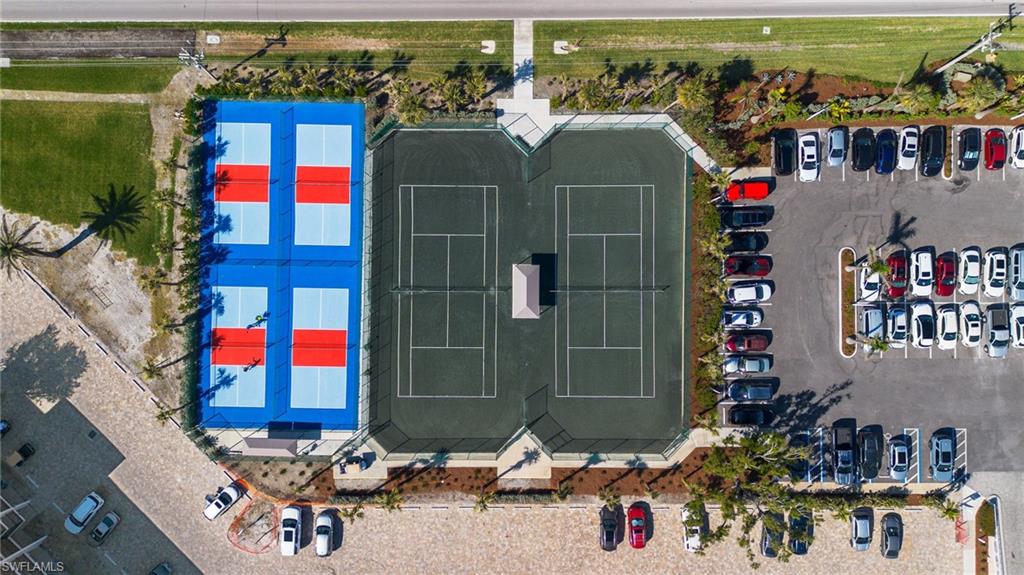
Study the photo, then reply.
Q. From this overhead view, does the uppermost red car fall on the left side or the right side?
right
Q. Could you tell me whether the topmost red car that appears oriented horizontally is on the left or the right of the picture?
right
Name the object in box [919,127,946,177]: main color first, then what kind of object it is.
black car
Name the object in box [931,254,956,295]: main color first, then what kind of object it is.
red car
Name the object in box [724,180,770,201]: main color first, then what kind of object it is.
red car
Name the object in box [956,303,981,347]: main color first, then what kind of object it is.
white car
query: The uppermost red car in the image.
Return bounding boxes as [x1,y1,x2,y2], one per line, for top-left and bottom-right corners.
[981,129,1006,171]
